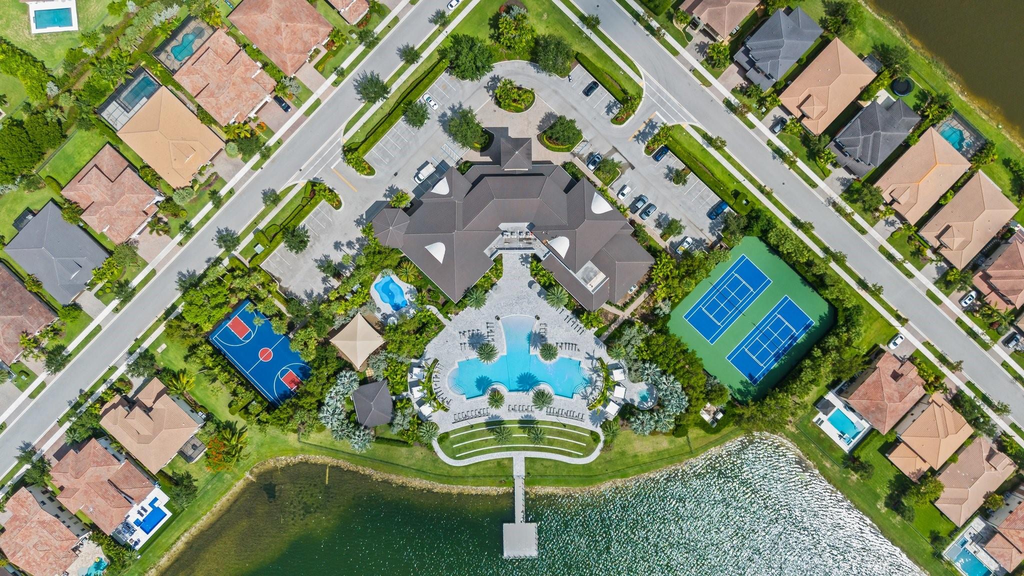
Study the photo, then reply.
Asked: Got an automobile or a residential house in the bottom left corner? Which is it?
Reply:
residential house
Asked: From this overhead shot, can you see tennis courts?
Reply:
Yes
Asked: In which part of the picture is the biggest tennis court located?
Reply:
right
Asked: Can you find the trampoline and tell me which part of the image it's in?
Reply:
top right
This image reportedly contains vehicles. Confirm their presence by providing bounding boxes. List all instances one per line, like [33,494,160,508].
[1005,333,1021,349]
[617,185,632,198]
[583,80,599,97]
[274,96,291,112]
[709,200,729,220]
[641,204,657,220]
[772,116,787,133]
[960,291,976,307]
[446,0,462,12]
[415,159,436,183]
[888,334,905,351]
[653,145,669,162]
[422,93,439,110]
[587,154,603,170]
[631,192,650,212]
[675,235,694,253]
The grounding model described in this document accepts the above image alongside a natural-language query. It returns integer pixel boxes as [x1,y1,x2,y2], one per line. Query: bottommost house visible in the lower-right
[979,493,1024,571]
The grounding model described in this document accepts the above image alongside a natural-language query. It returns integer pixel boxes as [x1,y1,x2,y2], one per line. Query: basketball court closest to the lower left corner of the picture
[210,297,320,406]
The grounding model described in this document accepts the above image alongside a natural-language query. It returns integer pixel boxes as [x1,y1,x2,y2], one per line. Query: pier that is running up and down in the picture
[503,478,537,559]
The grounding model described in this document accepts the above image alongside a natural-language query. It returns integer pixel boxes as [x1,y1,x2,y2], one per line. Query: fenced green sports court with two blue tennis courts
[667,236,835,404]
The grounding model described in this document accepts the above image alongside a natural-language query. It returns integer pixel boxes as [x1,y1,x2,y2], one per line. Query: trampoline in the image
[892,76,918,97]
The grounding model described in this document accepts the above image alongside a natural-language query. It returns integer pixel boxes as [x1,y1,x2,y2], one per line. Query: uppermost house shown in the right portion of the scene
[679,0,761,41]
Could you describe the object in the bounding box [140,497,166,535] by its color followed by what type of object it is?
blue swimming pool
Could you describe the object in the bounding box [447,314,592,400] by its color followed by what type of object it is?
blue swimming pool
